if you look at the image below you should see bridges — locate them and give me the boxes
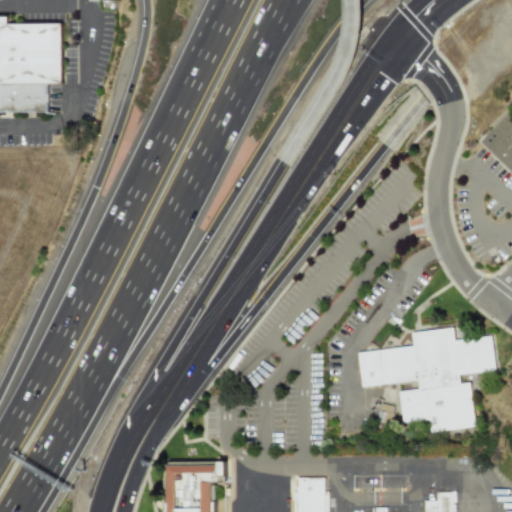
[275,0,361,164]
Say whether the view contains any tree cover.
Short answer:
No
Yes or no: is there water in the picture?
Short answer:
No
